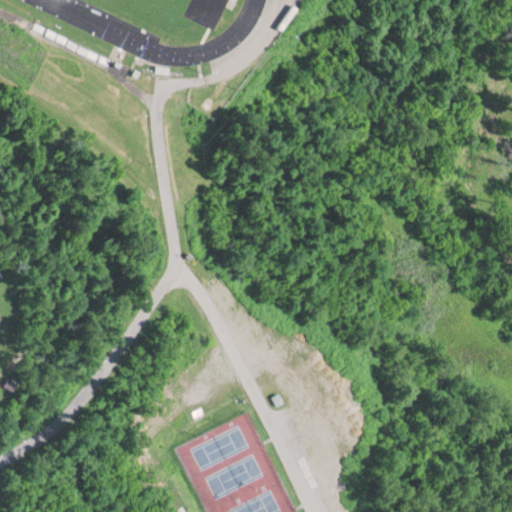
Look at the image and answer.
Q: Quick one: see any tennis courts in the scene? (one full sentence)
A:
Yes, you can see a tennis court in this photo.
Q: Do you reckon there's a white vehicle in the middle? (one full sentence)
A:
No, looking in the middle, there is no white vehicle.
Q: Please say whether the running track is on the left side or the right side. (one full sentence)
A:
The running track is on the left side of the image.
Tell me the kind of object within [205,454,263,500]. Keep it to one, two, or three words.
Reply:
tennis court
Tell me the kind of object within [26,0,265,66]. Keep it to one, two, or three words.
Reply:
running track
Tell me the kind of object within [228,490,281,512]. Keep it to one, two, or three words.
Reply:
tennis court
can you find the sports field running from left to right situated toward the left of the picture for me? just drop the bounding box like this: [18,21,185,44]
[86,0,245,46]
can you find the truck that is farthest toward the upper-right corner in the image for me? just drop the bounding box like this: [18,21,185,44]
[278,2,302,32]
